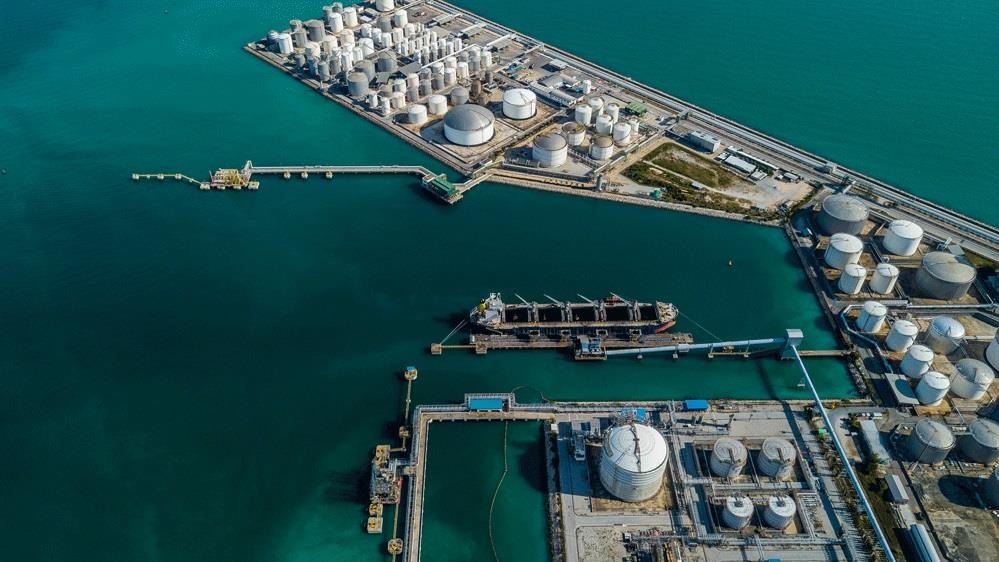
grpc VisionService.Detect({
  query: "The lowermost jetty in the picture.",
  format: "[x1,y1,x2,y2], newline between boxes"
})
[408,411,557,562]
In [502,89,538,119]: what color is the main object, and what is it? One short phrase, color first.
white storage tank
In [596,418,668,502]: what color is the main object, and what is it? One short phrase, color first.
white storage tank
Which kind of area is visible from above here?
port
